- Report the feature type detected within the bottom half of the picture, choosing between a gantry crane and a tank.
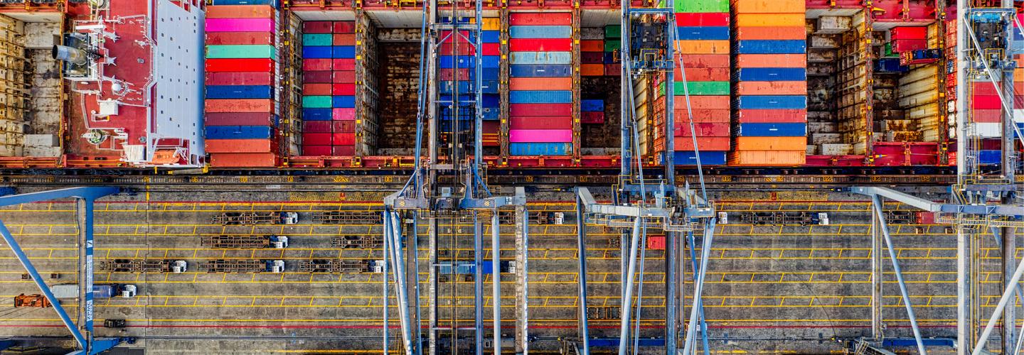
gantry crane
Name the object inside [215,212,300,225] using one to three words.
vehicle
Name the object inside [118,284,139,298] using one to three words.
vehicle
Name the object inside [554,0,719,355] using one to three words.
container crane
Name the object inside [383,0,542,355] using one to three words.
container crane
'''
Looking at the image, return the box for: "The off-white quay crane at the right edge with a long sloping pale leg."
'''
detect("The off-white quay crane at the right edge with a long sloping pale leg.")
[831,0,1024,355]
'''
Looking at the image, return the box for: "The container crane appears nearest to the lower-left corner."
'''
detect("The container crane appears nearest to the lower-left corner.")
[0,185,145,355]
